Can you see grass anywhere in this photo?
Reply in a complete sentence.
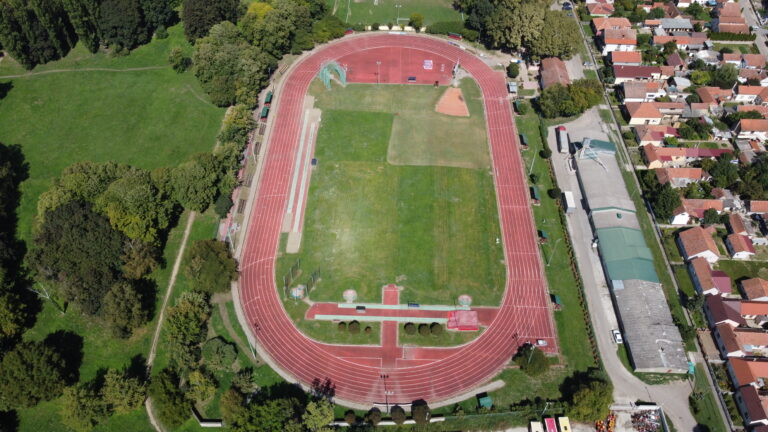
Yes, the picture does contain grass.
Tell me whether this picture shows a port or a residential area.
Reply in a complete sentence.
The area seen from above is a residential area.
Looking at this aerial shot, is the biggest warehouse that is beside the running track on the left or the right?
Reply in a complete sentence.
You can find the biggest warehouse that is beside the running track on the right side of the picture.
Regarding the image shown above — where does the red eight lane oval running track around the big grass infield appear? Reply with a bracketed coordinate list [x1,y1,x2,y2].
[226,30,561,419]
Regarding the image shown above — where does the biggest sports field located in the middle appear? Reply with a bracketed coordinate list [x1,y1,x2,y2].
[274,46,507,368]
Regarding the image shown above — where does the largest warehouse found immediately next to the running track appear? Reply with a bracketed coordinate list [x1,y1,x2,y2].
[569,136,691,379]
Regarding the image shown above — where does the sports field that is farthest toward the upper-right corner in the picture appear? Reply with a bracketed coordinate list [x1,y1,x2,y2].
[436,71,472,116]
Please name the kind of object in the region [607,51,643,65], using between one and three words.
house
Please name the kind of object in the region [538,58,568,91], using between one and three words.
building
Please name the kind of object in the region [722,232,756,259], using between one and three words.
house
